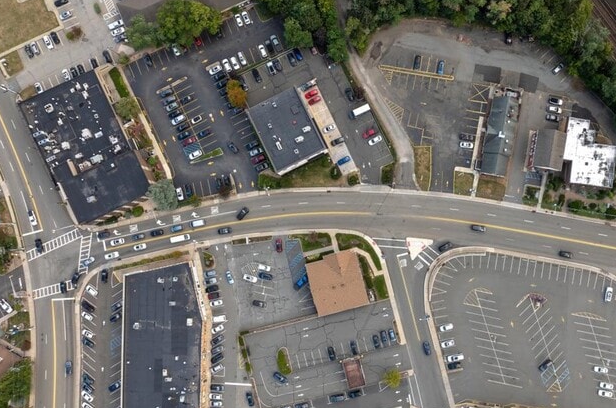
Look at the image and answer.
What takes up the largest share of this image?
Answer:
paved ground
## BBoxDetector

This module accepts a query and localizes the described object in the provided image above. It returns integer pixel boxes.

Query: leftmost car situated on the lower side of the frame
[0,300,12,313]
